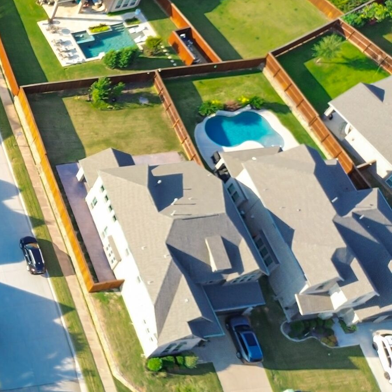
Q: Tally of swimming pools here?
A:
2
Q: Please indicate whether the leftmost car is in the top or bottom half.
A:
bottom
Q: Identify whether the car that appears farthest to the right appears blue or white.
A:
white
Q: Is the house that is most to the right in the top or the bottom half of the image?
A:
top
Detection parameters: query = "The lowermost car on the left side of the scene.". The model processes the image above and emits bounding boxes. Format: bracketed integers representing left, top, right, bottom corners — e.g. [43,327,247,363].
[19,237,48,278]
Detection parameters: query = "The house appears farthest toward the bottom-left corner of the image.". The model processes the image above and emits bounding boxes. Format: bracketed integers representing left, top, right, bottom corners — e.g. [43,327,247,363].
[75,149,270,362]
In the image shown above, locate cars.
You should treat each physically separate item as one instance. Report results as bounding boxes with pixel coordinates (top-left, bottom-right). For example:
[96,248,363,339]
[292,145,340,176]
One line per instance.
[227,317,266,363]
[19,237,48,278]
[364,332,392,379]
